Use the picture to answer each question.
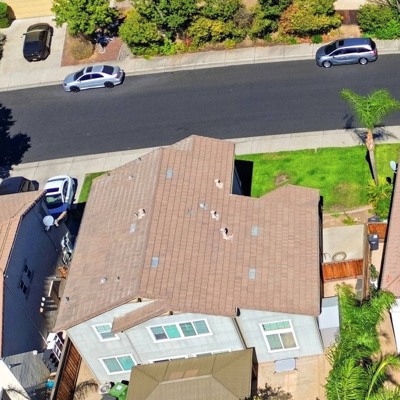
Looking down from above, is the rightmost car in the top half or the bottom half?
top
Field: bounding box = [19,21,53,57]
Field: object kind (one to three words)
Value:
car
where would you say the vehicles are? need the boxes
[45,174,79,225]
[315,38,378,71]
[0,165,42,192]
[19,21,53,57]
[61,64,127,94]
